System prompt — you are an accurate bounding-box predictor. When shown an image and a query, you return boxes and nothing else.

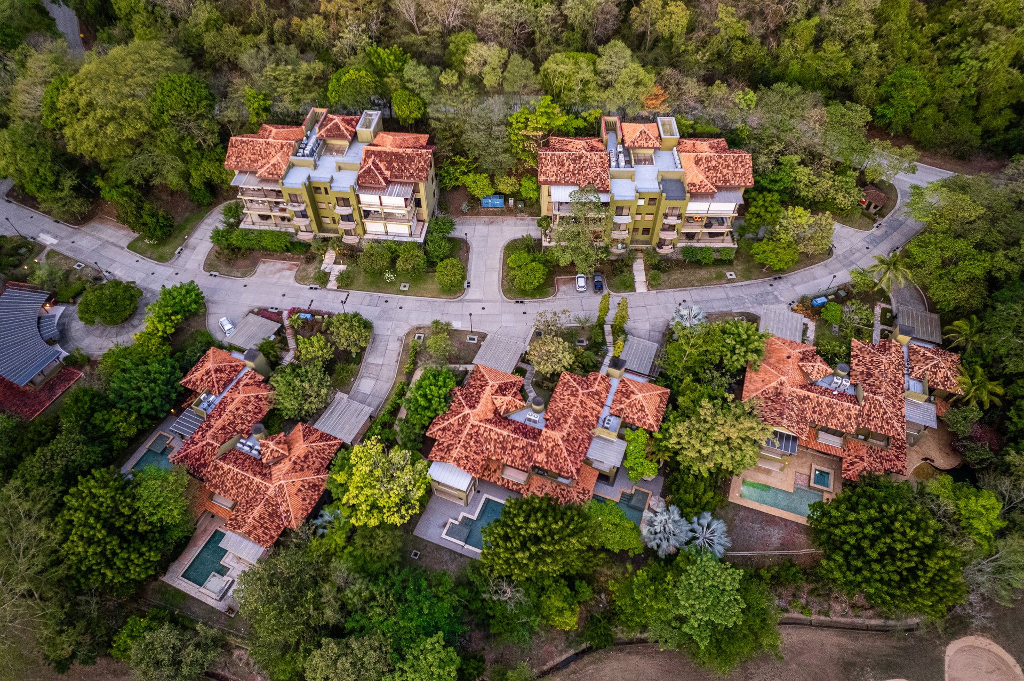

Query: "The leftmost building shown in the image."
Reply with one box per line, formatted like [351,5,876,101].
[0,280,84,409]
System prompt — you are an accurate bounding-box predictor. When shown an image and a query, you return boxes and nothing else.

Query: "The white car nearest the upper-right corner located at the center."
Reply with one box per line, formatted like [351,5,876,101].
[575,273,588,291]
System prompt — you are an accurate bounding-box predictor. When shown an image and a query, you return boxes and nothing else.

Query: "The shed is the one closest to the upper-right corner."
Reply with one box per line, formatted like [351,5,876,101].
[862,185,893,215]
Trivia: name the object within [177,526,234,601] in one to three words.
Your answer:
swimming pool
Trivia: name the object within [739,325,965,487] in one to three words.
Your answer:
house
